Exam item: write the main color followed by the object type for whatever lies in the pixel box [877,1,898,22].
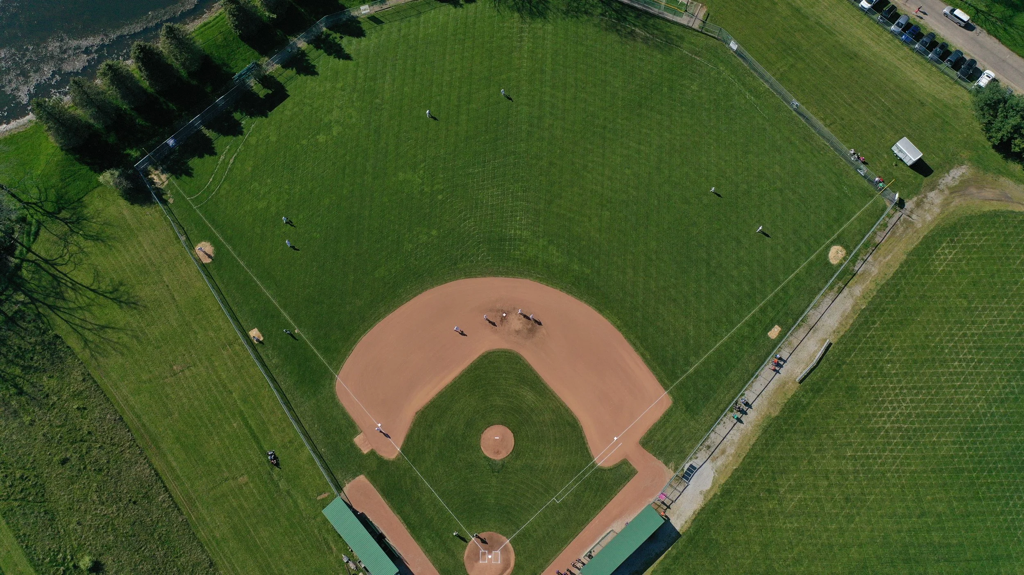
black car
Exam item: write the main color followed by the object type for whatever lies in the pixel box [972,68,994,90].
white car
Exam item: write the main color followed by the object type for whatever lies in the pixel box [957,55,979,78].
black car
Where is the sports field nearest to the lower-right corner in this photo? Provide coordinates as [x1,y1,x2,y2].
[647,211,1024,575]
